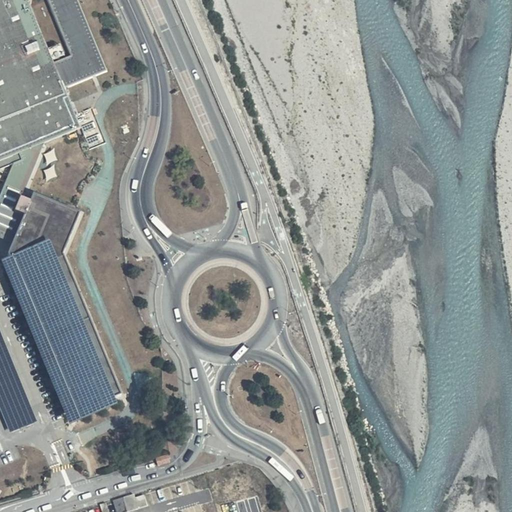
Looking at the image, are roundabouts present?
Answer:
Yes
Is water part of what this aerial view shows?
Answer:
Yes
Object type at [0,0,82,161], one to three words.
building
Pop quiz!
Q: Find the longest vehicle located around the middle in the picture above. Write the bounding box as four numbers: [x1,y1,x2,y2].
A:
[241,202,260,244]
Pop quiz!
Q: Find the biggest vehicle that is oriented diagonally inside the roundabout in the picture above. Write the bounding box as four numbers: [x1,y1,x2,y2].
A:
[232,344,248,360]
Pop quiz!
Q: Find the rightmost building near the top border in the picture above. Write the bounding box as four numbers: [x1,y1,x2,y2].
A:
[47,0,108,88]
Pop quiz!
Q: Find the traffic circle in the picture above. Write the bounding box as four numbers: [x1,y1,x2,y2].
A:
[163,240,286,364]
